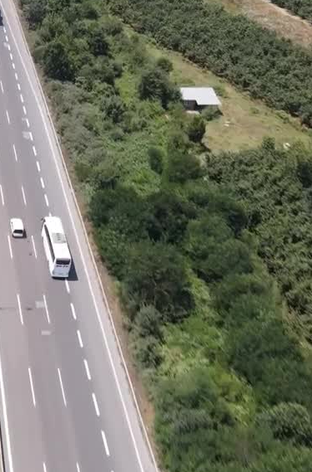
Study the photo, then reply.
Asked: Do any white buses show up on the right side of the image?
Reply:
No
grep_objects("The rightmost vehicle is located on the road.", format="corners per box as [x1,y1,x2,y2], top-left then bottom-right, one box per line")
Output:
[41,215,71,276]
